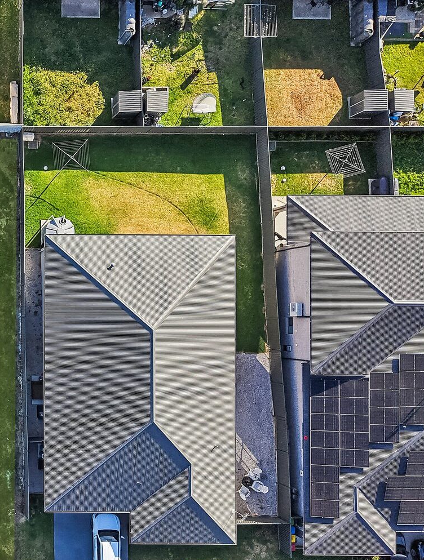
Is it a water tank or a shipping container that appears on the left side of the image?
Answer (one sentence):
You can see a water tank on the left side of the image.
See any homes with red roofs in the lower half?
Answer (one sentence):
No, no home with a red roof is visible in the lower half.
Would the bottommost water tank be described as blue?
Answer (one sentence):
No, the bottommost water tank is actually white.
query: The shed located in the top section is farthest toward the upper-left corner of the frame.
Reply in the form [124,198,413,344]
[111,89,143,116]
